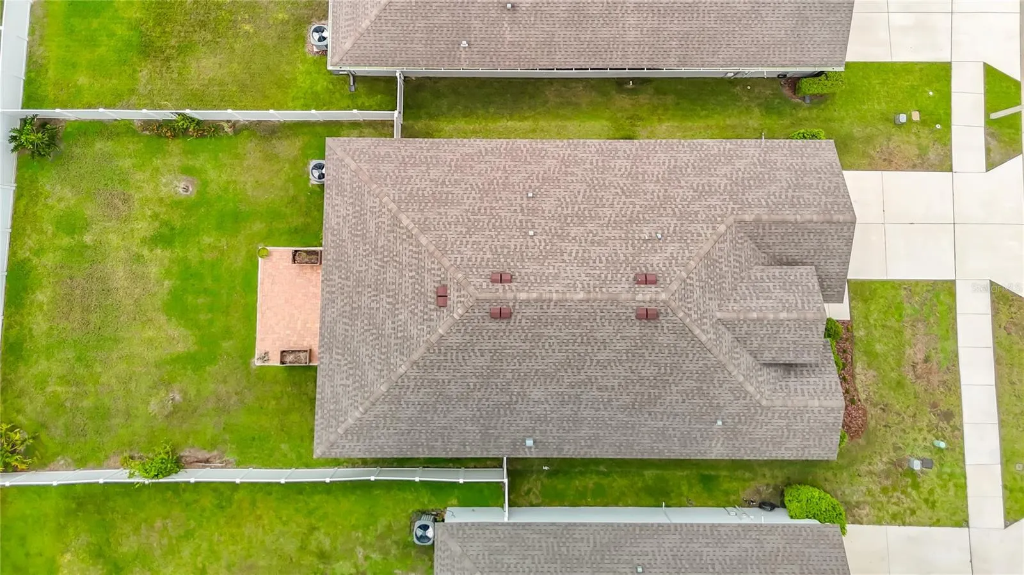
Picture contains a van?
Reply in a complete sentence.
No, the photo shows no van.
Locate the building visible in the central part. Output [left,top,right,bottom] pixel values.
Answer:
[313,137,858,461]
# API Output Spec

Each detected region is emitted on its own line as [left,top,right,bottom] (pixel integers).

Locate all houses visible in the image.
[313,137,858,461]
[328,0,856,87]
[434,507,851,575]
